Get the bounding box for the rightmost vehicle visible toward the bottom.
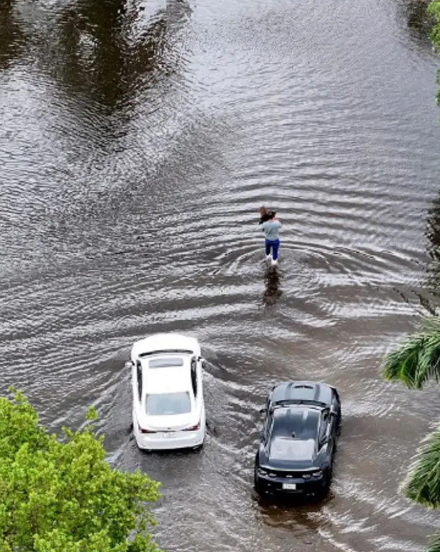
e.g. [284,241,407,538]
[255,377,344,500]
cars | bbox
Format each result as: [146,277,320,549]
[125,328,204,446]
[255,377,344,500]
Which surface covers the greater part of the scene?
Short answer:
water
